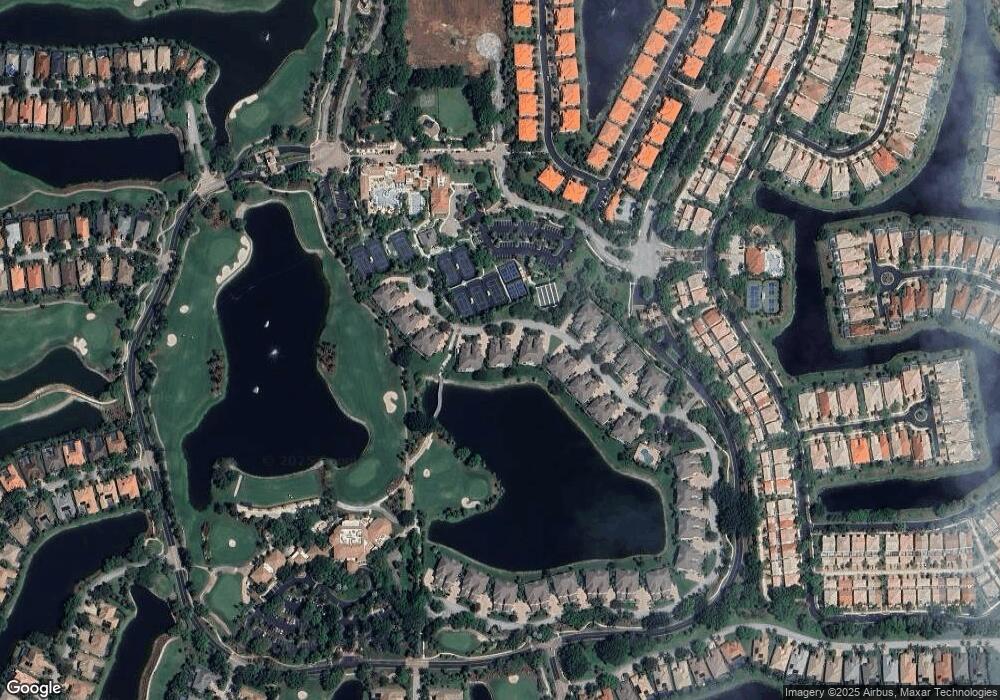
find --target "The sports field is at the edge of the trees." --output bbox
[438,86,476,138]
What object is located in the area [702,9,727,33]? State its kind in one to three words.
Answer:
house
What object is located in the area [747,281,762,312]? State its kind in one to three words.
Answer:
tennis court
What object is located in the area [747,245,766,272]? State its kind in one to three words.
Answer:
building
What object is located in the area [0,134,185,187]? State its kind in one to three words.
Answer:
pond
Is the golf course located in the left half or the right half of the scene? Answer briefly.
left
